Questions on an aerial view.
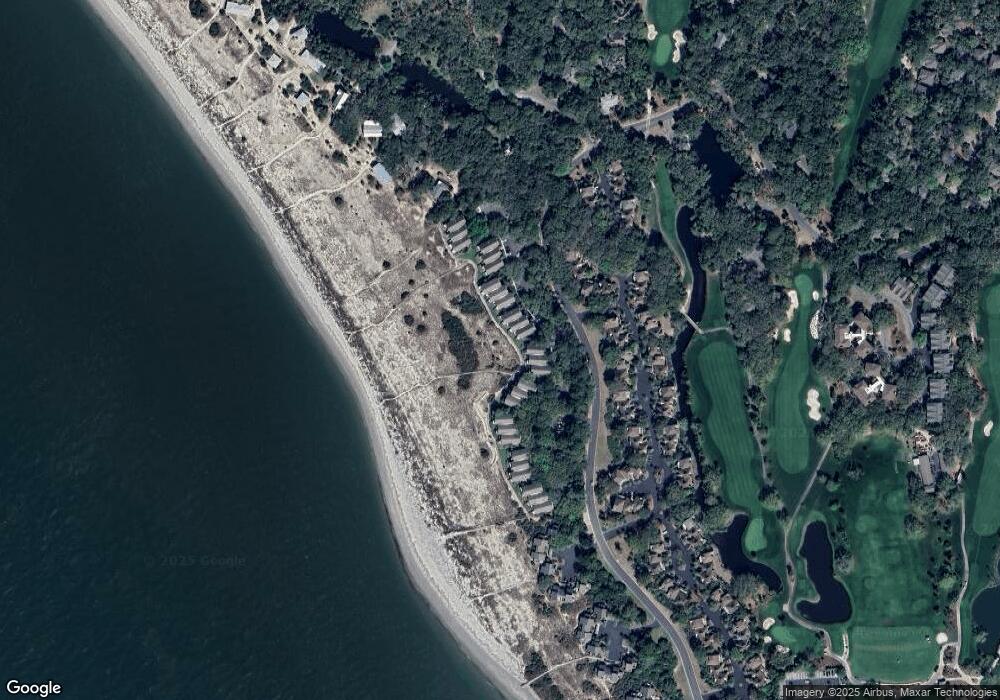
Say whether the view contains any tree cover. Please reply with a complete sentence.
Yes, the picture does contain tree cover.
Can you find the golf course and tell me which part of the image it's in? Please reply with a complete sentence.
The golf course sits in the right section of the image.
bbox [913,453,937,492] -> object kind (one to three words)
building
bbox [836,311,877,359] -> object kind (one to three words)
house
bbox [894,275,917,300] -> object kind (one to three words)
building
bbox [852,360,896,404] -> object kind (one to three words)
house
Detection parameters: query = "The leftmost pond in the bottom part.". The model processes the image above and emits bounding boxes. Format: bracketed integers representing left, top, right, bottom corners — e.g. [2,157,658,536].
[713,515,781,590]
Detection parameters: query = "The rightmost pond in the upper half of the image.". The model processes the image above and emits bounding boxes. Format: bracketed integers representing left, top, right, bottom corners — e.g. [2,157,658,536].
[698,121,743,203]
